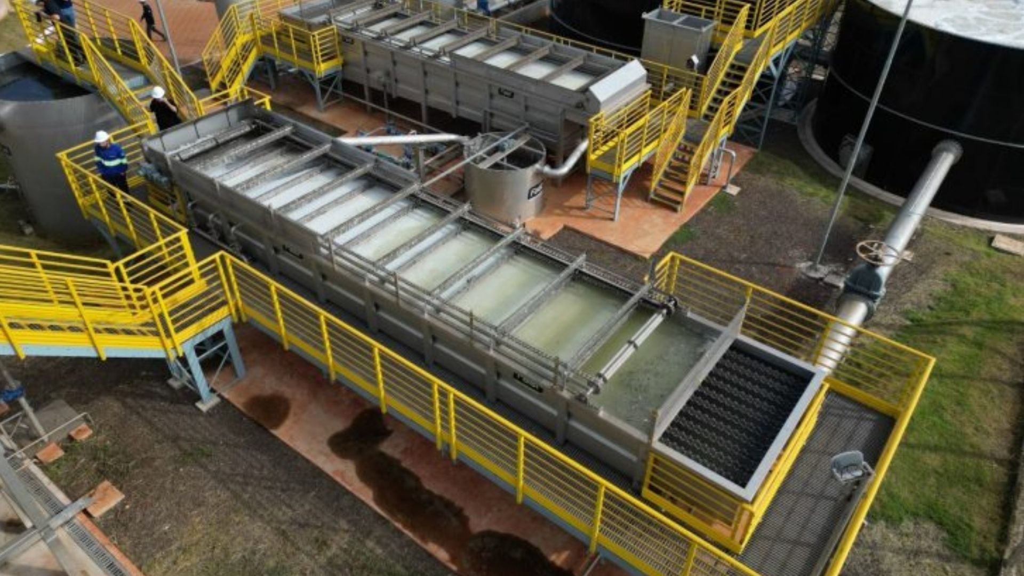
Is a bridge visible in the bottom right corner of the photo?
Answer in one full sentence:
No, there's no bridge to be seen in the bottom right corner of the photo.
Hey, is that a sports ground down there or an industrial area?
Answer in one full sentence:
The area seen from above is an industrial area.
